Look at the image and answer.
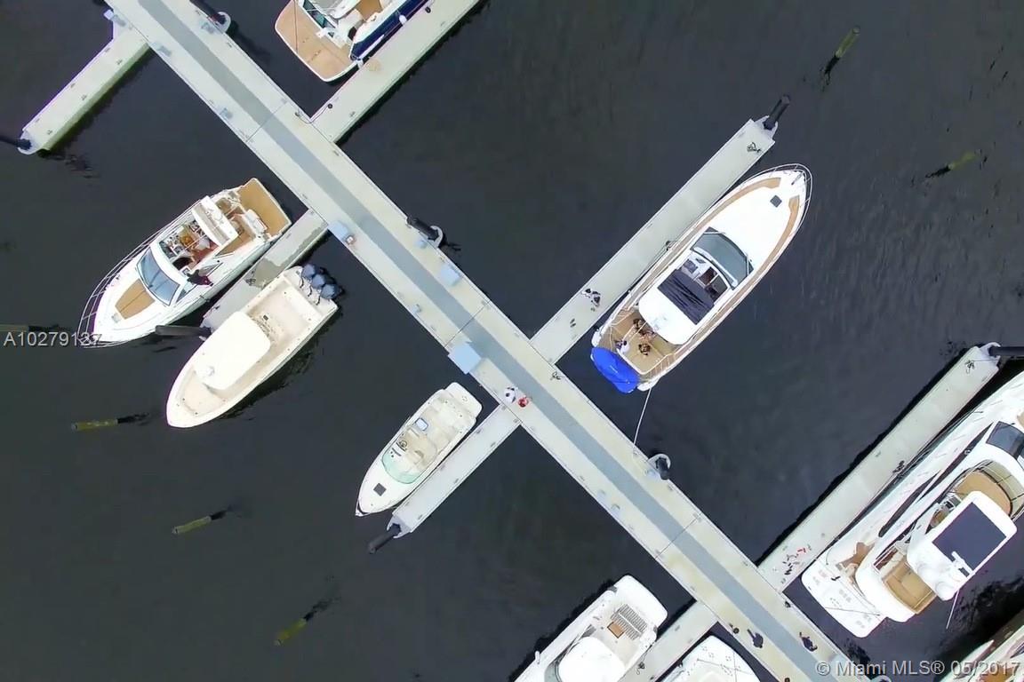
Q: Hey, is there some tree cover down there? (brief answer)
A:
No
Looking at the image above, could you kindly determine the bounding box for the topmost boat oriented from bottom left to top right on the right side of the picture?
[593,160,819,392]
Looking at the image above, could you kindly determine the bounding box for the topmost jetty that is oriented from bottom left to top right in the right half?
[531,111,782,363]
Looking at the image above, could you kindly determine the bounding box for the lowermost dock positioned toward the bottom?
[620,600,717,682]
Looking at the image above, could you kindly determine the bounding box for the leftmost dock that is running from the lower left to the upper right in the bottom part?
[384,403,521,541]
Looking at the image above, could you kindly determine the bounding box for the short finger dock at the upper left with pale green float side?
[23,12,151,157]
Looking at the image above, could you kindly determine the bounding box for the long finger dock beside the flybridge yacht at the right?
[756,338,1006,591]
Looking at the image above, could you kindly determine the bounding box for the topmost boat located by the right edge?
[802,365,1024,635]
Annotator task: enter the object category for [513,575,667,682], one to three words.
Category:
boat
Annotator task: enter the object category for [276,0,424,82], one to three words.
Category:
boat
